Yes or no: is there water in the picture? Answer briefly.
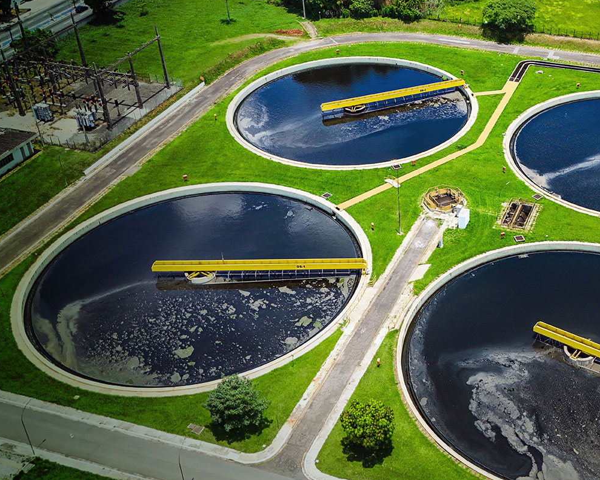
Yes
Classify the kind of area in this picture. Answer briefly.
industrial area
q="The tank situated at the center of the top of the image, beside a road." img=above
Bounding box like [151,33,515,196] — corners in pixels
[225,57,477,171]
